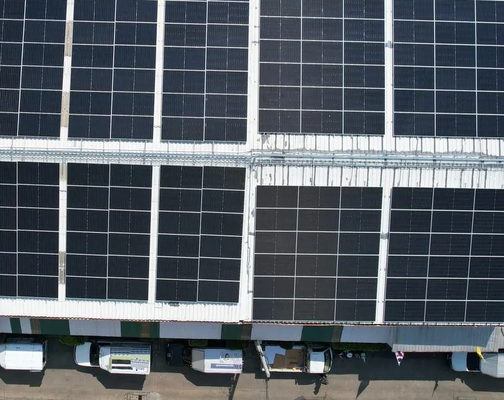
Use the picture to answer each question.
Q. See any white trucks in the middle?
No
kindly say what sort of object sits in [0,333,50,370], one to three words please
truck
